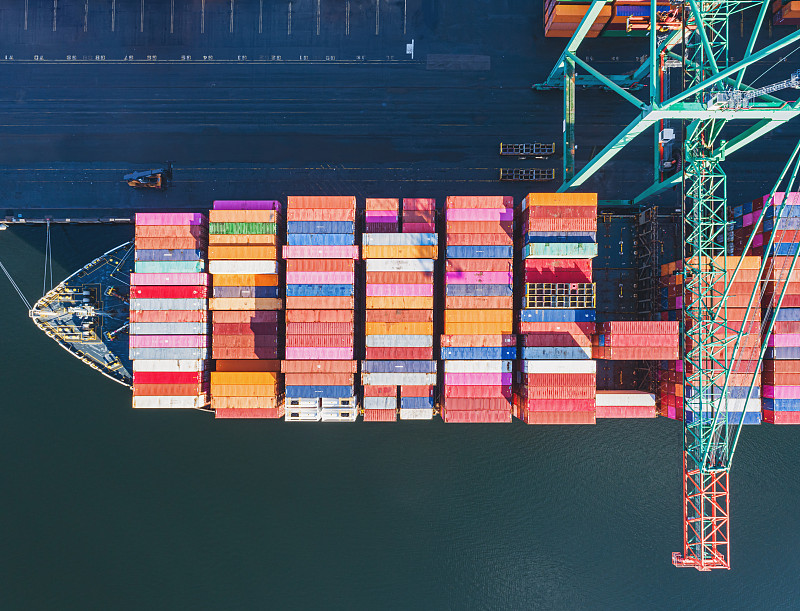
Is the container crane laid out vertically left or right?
right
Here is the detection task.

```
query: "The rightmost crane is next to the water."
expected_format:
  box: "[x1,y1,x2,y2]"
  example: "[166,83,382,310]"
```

[525,0,800,572]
